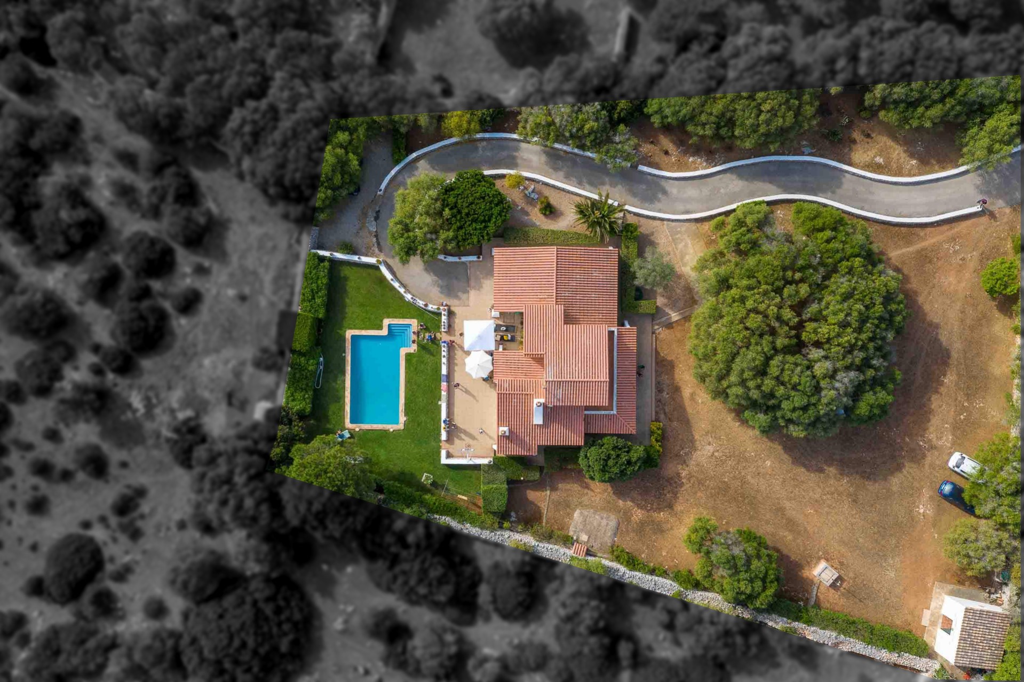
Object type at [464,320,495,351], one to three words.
gazebo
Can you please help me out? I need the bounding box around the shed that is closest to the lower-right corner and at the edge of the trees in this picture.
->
[938,596,1012,669]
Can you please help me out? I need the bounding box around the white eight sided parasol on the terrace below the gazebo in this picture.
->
[464,350,494,380]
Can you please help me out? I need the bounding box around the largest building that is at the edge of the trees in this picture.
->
[491,246,638,456]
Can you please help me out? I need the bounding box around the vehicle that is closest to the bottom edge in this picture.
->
[939,480,975,514]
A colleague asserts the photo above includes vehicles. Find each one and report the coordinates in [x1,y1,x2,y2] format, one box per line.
[939,480,975,514]
[950,452,990,483]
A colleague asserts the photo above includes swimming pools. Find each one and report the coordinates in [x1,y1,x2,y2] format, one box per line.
[346,319,417,432]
